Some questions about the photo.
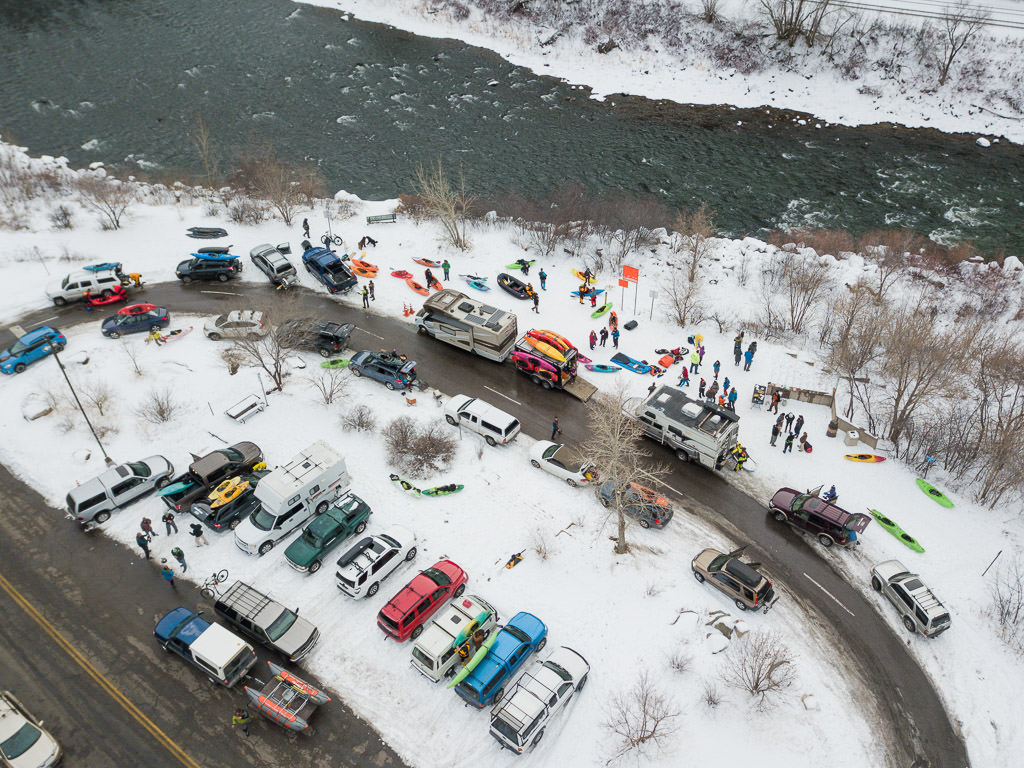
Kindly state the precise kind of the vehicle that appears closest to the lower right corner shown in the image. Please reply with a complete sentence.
In the photo, the vehicle that appears closest to the lower right corner shows up as an automobile.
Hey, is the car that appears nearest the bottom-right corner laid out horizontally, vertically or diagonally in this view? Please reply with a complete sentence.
The car that appears nearest the bottom-right corner has been laid out diagonally relative to the frame.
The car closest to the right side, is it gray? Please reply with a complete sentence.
Yes, the car closest to the right side is gray.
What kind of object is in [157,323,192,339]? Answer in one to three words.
boat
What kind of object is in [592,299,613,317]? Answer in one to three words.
boat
